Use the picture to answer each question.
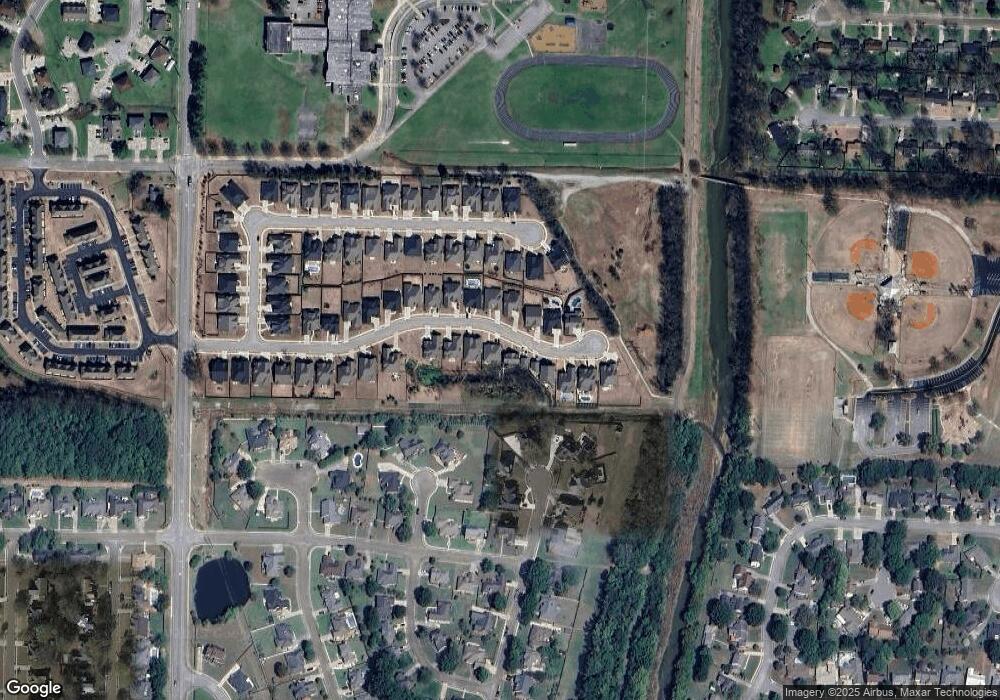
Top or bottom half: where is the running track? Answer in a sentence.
It is in the top half that the running track appears.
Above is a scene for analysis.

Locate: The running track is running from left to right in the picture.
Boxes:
[494,54,682,142]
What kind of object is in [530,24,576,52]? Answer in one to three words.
playground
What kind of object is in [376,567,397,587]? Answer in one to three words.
house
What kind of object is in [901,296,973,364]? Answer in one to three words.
baseball field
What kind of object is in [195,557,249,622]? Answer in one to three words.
pond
